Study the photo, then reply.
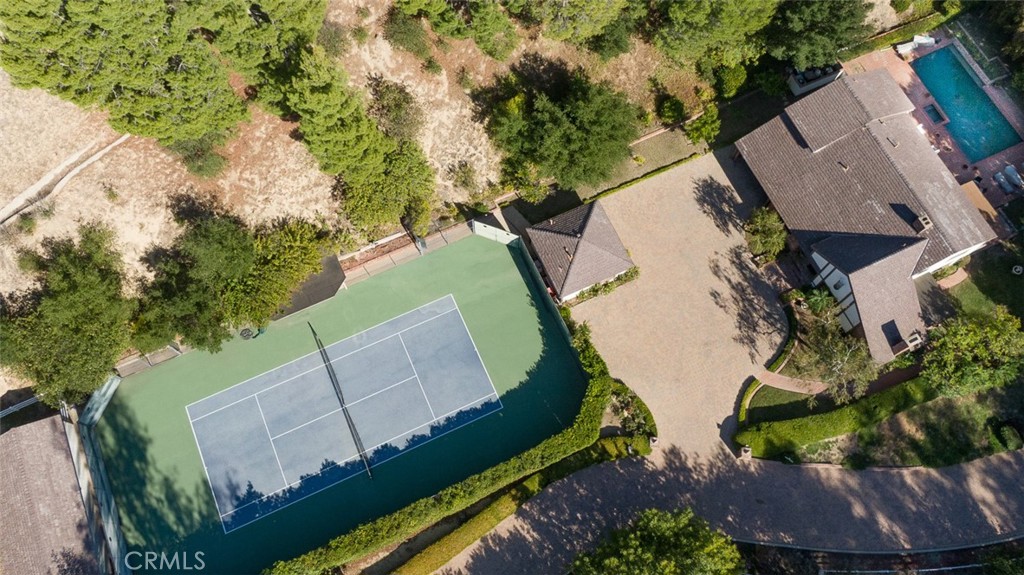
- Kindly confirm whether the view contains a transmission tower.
No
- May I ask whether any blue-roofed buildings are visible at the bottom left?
No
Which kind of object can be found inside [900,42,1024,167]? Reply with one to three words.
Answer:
swimming pool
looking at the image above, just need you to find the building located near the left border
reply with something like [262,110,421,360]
[0,416,110,575]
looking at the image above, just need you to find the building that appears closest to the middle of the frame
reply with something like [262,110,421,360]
[524,198,635,302]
